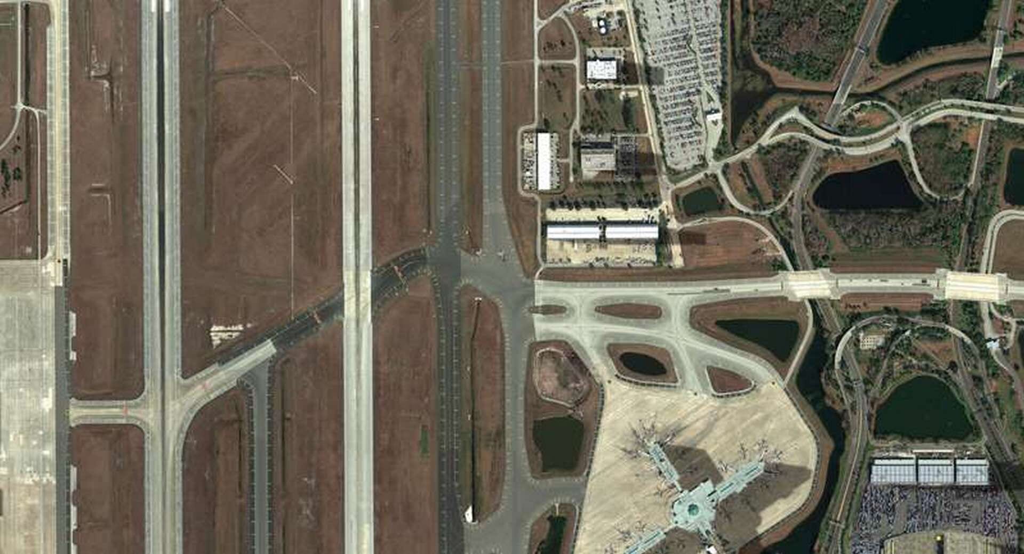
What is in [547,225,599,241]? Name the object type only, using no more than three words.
hangar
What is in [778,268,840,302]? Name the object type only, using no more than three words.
bridge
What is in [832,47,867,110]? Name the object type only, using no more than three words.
bridge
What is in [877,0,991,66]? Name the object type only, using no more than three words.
pond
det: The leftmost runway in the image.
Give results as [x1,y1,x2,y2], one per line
[141,0,183,554]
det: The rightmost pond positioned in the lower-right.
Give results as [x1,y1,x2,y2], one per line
[876,374,976,440]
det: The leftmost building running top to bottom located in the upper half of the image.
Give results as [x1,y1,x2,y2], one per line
[538,132,550,189]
